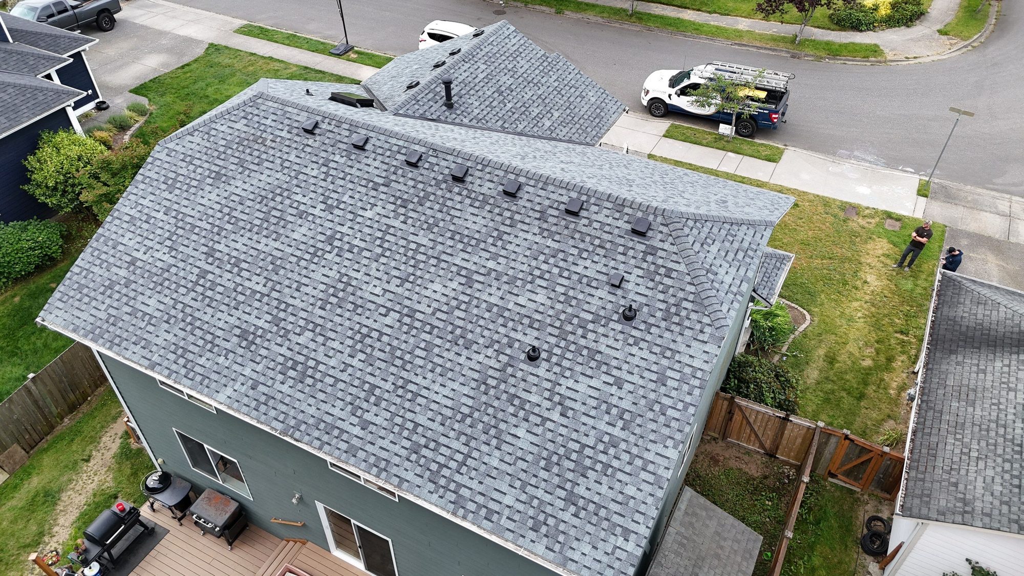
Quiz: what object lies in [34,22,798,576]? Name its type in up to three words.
house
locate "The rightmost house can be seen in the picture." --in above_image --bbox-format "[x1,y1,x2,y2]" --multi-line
[881,269,1024,576]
